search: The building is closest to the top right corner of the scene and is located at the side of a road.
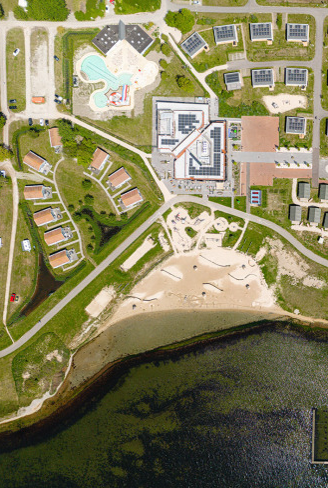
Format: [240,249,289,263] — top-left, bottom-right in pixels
[287,23,309,48]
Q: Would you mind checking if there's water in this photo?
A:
Yes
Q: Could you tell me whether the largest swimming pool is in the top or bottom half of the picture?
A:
top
